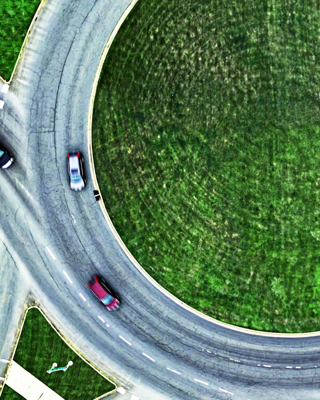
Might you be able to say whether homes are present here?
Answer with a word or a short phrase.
No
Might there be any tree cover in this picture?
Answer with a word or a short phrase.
No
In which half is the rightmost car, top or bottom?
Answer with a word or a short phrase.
bottom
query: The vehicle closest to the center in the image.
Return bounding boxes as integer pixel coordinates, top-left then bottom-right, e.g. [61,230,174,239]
[66,151,86,190]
